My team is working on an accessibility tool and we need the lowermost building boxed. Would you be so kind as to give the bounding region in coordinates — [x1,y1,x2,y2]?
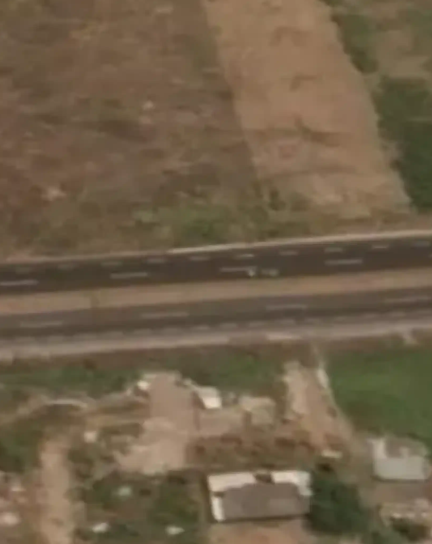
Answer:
[208,470,310,526]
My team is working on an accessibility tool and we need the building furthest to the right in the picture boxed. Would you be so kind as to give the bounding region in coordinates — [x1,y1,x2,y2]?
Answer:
[372,438,427,485]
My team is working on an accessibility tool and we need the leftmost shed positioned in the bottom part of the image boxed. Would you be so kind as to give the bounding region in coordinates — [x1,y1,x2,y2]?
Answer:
[200,386,220,416]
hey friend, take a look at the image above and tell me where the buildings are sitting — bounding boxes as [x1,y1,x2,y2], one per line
[200,386,220,416]
[244,397,274,429]
[372,438,427,485]
[208,470,310,526]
